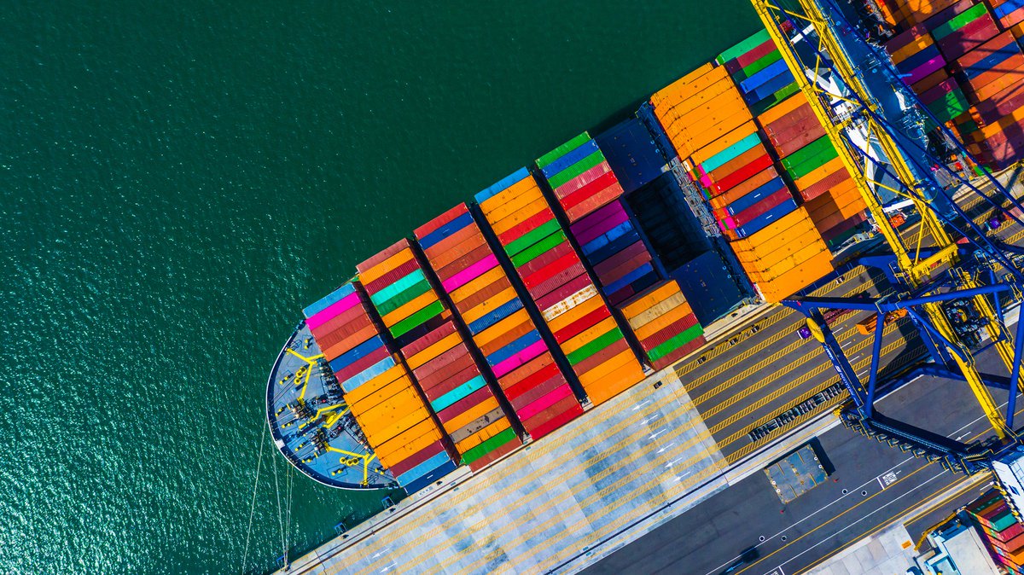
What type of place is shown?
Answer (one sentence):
It's a port.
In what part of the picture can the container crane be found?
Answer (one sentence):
The container crane appears toward the right of the photo.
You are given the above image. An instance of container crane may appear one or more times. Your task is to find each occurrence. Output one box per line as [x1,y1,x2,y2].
[745,0,1024,546]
